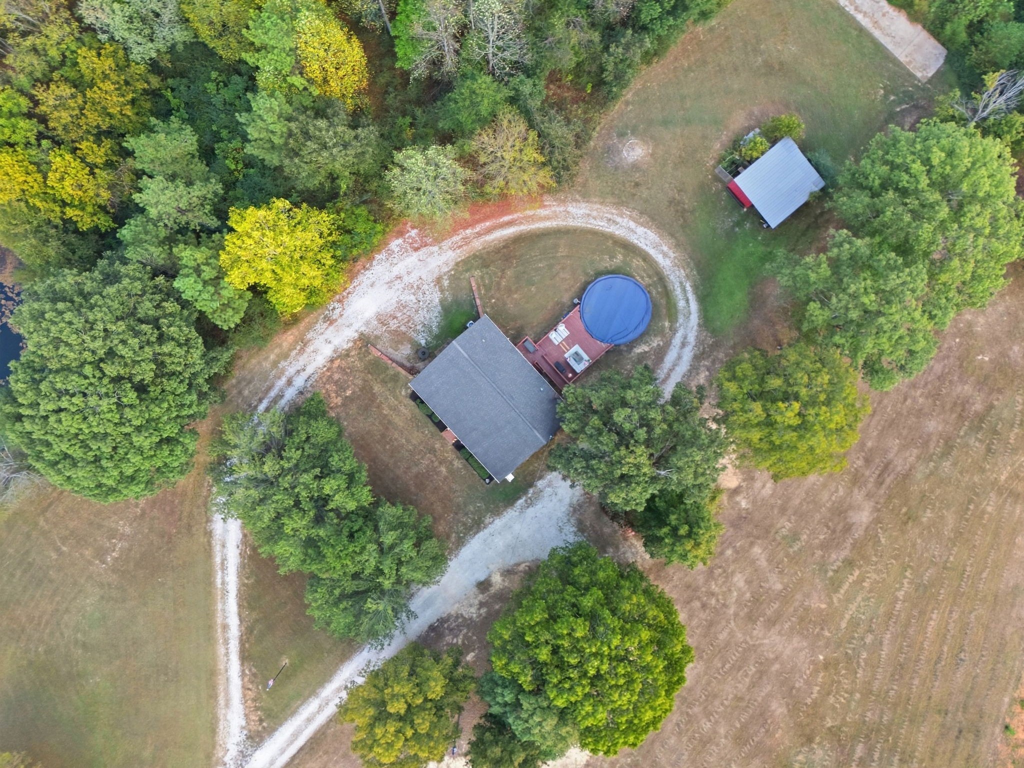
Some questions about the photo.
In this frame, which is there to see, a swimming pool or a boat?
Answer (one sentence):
Visible in the photo is a swimming pool.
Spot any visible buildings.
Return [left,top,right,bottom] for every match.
[409,313,572,483]
[732,136,823,232]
